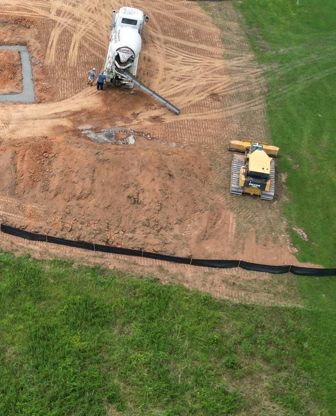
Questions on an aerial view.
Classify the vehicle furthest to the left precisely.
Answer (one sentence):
I'd identify the vehicle furthest to the left as a truck.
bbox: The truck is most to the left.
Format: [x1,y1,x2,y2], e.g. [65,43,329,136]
[107,3,181,116]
